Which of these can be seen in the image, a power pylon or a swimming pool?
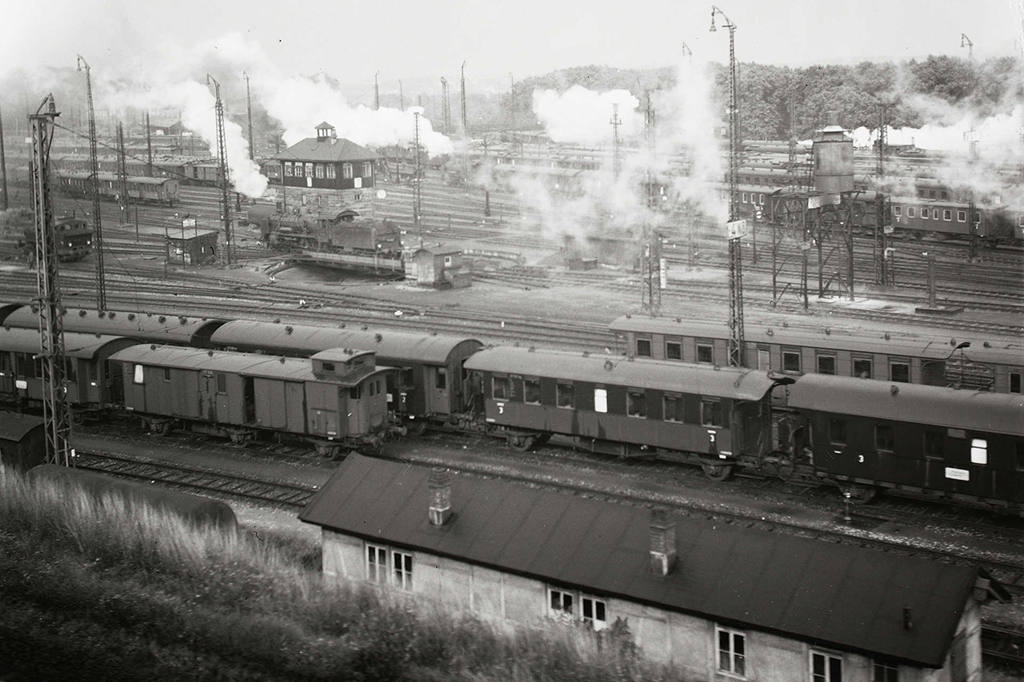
power pylon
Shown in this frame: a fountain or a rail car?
rail car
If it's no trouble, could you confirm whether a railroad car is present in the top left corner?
Yes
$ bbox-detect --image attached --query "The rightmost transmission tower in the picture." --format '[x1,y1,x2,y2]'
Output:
[966,128,980,260]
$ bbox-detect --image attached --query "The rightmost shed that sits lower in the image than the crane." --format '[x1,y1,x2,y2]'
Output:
[299,451,1011,682]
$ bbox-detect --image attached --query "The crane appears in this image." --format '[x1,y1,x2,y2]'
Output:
[904,247,970,318]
